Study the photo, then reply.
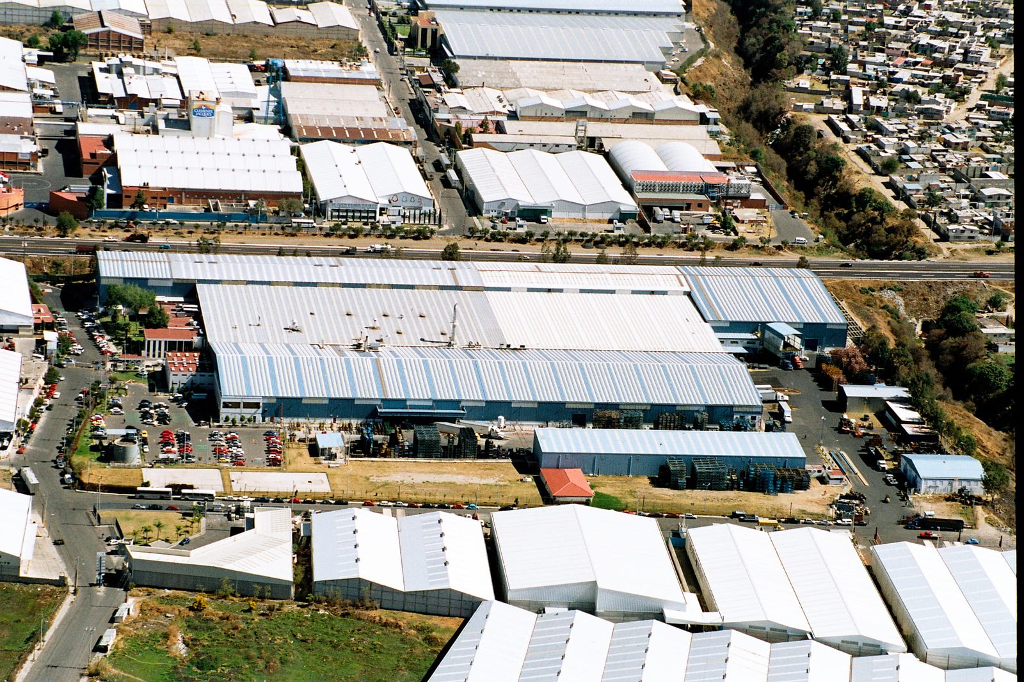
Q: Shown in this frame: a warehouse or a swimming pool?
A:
warehouse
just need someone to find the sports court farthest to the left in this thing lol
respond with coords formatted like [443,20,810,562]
[143,468,224,491]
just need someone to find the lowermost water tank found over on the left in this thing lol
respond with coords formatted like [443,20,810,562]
[114,440,139,464]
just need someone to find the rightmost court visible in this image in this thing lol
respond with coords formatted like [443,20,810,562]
[230,472,331,492]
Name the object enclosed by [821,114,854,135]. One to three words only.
house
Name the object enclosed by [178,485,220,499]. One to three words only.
vehicle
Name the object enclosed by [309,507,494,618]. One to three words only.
warehouse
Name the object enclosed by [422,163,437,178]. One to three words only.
vehicle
